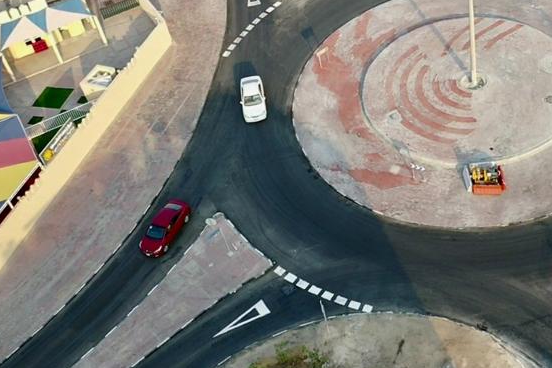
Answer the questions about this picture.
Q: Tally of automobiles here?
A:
two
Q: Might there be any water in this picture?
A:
No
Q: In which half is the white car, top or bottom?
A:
top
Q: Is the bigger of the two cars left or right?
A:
left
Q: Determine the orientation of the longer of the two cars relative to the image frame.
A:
diagonally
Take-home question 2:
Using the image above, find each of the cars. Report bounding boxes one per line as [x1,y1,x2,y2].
[138,198,192,258]
[238,77,268,123]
